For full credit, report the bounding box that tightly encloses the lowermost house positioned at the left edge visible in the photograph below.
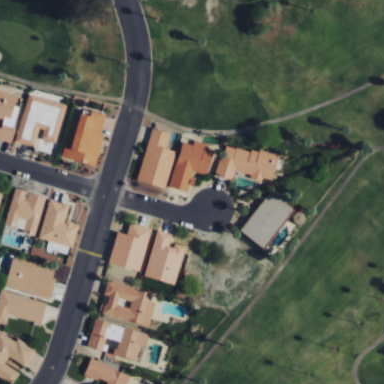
[0,330,34,382]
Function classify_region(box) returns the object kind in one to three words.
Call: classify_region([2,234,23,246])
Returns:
swimming pool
